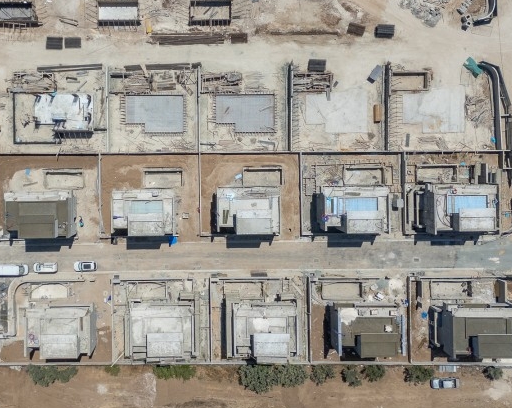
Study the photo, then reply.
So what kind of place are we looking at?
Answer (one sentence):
The picture captures a residential area.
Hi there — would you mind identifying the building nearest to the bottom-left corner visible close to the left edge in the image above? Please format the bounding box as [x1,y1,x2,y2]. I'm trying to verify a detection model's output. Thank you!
[25,302,97,358]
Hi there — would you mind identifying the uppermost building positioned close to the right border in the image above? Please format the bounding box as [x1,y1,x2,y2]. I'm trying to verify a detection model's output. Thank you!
[416,182,498,231]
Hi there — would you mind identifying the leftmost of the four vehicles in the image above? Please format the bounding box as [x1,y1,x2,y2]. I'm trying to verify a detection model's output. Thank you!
[0,263,30,276]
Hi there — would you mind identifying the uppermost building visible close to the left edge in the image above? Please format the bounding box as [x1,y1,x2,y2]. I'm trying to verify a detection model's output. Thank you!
[0,188,77,239]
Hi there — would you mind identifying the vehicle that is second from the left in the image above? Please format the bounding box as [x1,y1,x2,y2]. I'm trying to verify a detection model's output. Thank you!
[33,260,58,273]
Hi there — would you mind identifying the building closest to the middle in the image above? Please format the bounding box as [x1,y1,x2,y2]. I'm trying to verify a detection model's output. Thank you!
[213,184,280,234]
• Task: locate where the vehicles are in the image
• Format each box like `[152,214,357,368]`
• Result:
[74,260,98,273]
[33,260,58,273]
[0,263,30,276]
[429,376,458,390]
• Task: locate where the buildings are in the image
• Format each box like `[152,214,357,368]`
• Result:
[315,183,389,234]
[416,182,498,231]
[434,301,512,356]
[0,188,77,239]
[25,302,97,358]
[330,301,405,355]
[231,298,296,362]
[213,184,280,234]
[111,186,175,236]
[130,297,192,362]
